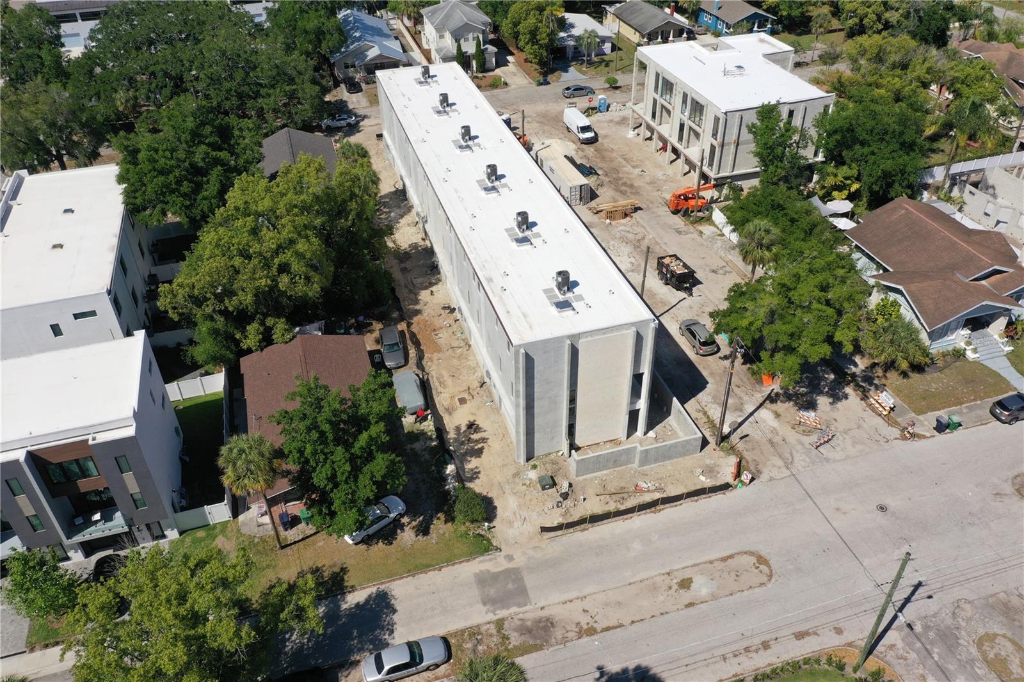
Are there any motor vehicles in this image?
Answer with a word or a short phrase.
Yes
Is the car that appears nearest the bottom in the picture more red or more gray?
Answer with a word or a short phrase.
gray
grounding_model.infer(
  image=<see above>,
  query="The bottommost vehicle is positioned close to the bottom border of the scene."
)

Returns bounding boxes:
[359,633,450,682]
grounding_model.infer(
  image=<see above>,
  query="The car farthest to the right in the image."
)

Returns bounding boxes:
[991,388,1024,423]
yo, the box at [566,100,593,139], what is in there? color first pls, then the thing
white vehicle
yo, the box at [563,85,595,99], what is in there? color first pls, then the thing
gray car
